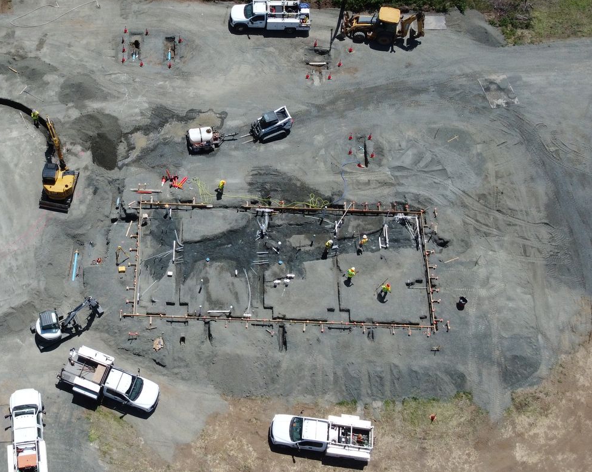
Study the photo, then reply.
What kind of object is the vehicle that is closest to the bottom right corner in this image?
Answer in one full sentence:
What you see as the vehicle that is closest to the bottom right corner is a truck.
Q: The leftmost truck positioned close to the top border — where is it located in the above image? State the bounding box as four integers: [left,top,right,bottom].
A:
[230,0,312,34]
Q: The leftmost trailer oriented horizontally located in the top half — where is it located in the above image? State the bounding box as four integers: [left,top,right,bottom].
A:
[185,128,238,155]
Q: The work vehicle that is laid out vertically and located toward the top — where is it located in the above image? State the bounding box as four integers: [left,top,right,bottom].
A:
[34,117,79,217]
